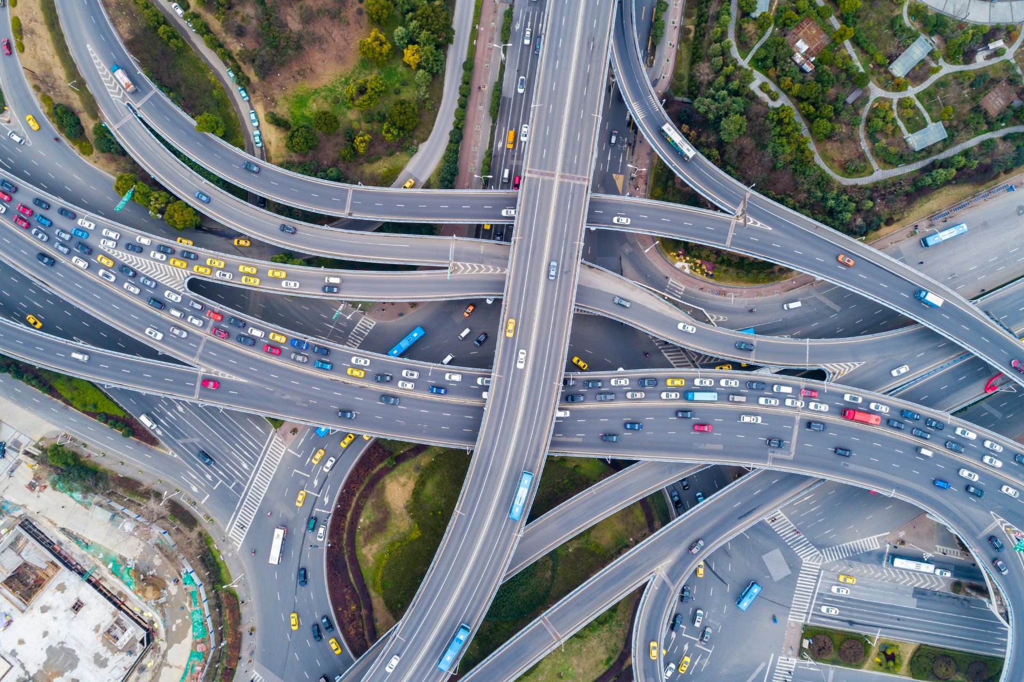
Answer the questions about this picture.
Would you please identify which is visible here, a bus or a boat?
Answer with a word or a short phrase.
bus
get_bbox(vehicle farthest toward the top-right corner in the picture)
[922,222,974,246]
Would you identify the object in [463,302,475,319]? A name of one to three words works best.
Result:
vehicle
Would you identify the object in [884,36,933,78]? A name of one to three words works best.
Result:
building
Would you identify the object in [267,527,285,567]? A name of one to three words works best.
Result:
vehicle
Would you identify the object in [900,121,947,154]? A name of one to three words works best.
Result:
building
